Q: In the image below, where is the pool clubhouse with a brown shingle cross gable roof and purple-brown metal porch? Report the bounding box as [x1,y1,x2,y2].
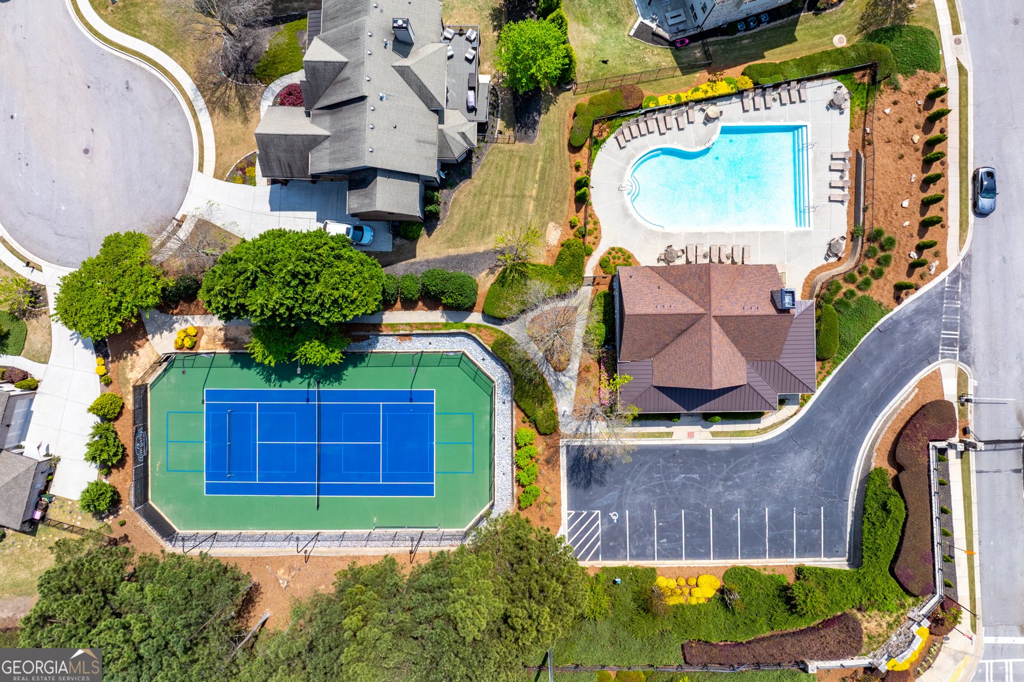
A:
[617,263,821,413]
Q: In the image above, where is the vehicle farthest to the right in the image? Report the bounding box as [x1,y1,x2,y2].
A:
[971,167,998,215]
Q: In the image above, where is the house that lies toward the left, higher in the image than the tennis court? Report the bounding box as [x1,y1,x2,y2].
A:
[256,0,478,221]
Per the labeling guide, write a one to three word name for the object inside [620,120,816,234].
swimming pool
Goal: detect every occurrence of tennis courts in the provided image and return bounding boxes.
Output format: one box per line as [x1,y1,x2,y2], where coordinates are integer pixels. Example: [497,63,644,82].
[149,352,495,534]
